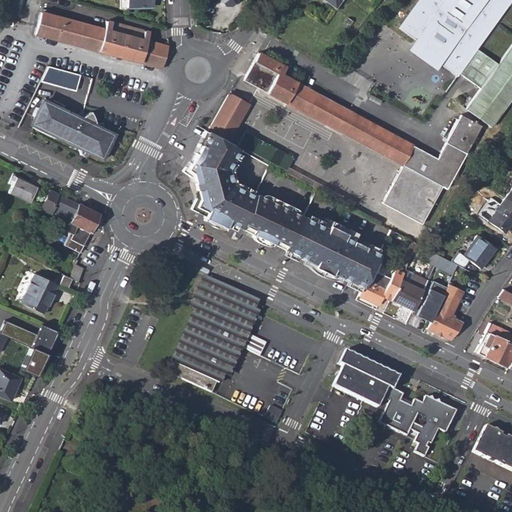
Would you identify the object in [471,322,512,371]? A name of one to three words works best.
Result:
house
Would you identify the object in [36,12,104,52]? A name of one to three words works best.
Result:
shed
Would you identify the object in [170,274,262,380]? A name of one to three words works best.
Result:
building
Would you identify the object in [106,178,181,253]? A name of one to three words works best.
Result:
roundabout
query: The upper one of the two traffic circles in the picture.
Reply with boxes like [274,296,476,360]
[166,37,232,103]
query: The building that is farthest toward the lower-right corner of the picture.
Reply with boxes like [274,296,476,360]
[468,424,512,472]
